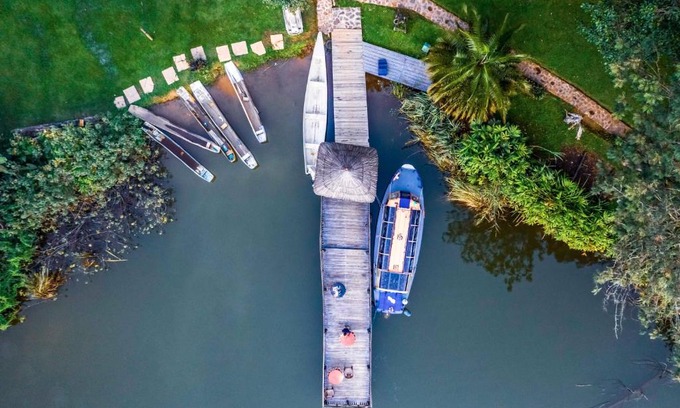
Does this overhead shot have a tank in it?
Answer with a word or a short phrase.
No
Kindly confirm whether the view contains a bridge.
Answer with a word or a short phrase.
No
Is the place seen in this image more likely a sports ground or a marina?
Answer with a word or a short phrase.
marina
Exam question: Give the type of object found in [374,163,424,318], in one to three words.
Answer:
boat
